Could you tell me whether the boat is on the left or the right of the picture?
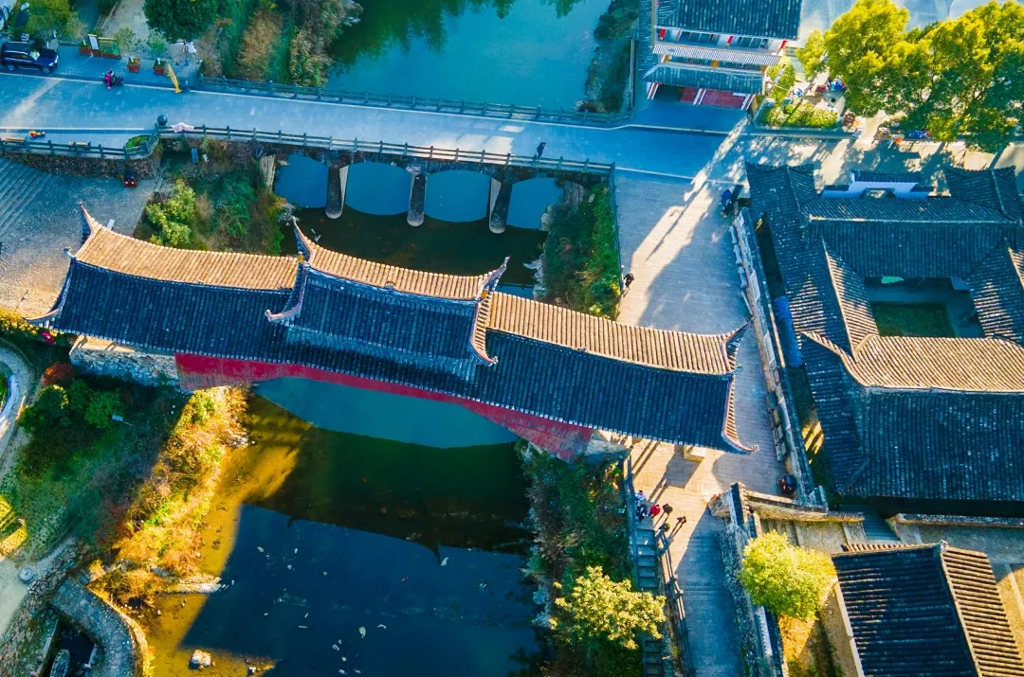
left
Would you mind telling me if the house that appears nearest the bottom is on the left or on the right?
right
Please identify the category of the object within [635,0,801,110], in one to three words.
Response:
building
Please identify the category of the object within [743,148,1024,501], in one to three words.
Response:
house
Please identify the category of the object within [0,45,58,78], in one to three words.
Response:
car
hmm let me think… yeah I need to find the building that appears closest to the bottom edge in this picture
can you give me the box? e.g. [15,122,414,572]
[837,539,1020,677]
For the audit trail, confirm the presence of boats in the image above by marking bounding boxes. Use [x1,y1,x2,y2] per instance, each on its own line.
[46,630,74,677]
